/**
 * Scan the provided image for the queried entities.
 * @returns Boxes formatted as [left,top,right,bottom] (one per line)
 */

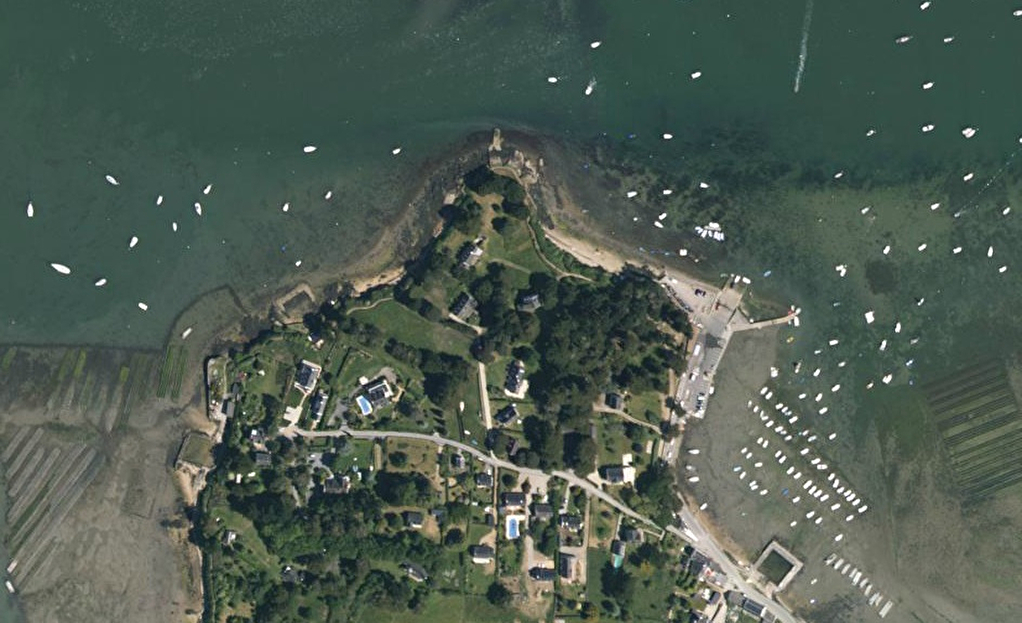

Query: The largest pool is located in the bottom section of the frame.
[506,515,525,539]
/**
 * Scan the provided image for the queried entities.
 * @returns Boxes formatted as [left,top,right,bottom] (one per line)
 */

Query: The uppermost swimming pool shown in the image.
[356,395,372,415]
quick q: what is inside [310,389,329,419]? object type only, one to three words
house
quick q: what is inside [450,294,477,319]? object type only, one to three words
house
